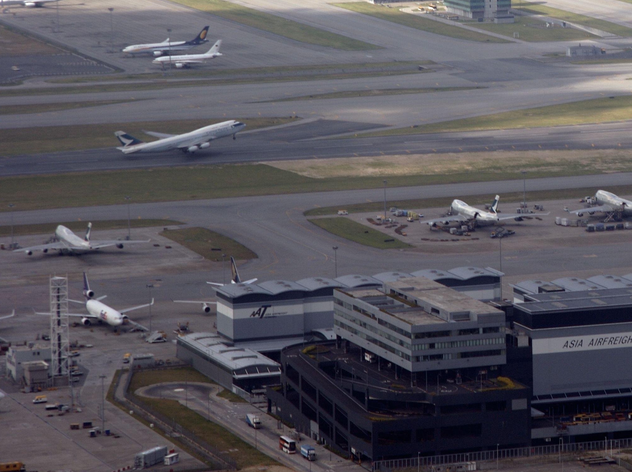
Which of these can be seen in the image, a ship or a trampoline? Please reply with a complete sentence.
There is a ship in the scene.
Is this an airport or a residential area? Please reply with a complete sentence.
The picture captures an airport.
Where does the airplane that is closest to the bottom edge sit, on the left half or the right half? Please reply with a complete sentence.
The airplane that is closest to the bottom edge sits on the left side.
